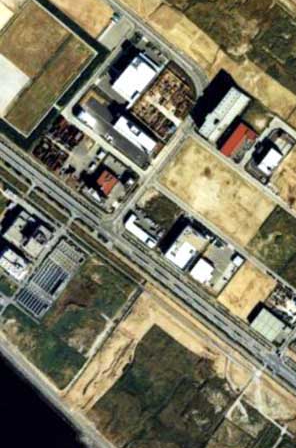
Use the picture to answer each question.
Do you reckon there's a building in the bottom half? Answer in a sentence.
Yes, there is a building in the bottom half.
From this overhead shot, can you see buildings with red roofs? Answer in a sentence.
Yes, the photo shows a building with a red roof.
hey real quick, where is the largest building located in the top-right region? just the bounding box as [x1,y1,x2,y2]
[199,86,249,142]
